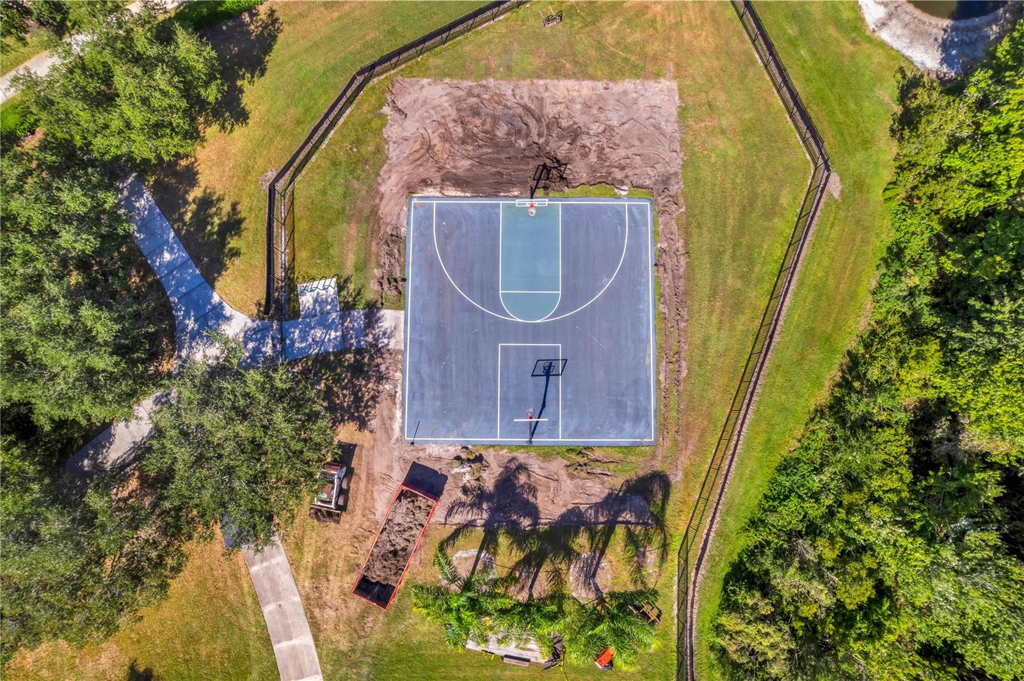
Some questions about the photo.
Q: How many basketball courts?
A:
one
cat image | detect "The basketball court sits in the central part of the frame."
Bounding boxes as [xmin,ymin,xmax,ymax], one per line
[402,197,656,445]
